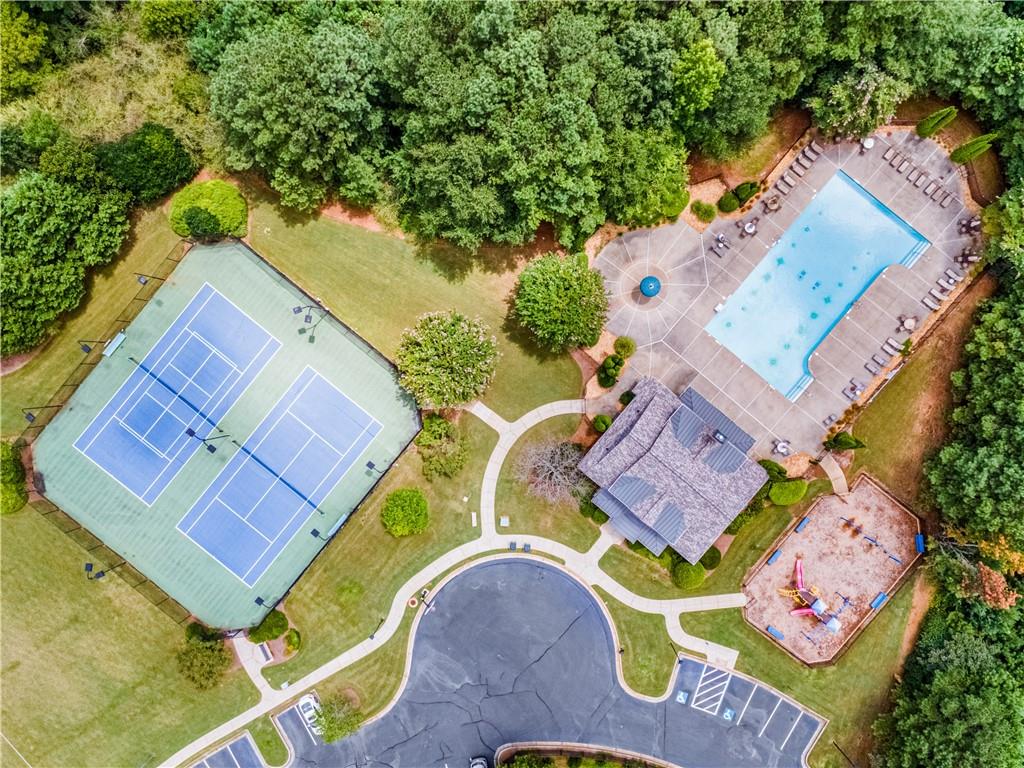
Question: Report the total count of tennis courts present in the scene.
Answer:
2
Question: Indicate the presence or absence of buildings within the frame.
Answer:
Yes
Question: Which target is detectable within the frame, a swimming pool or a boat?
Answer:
swimming pool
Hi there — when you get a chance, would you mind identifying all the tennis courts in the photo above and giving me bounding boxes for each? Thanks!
[73,281,283,508]
[177,365,384,589]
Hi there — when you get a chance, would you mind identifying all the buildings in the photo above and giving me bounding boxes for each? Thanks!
[579,379,769,564]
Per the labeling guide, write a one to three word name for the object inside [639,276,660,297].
fountain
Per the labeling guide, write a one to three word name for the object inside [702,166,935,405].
swimming pool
